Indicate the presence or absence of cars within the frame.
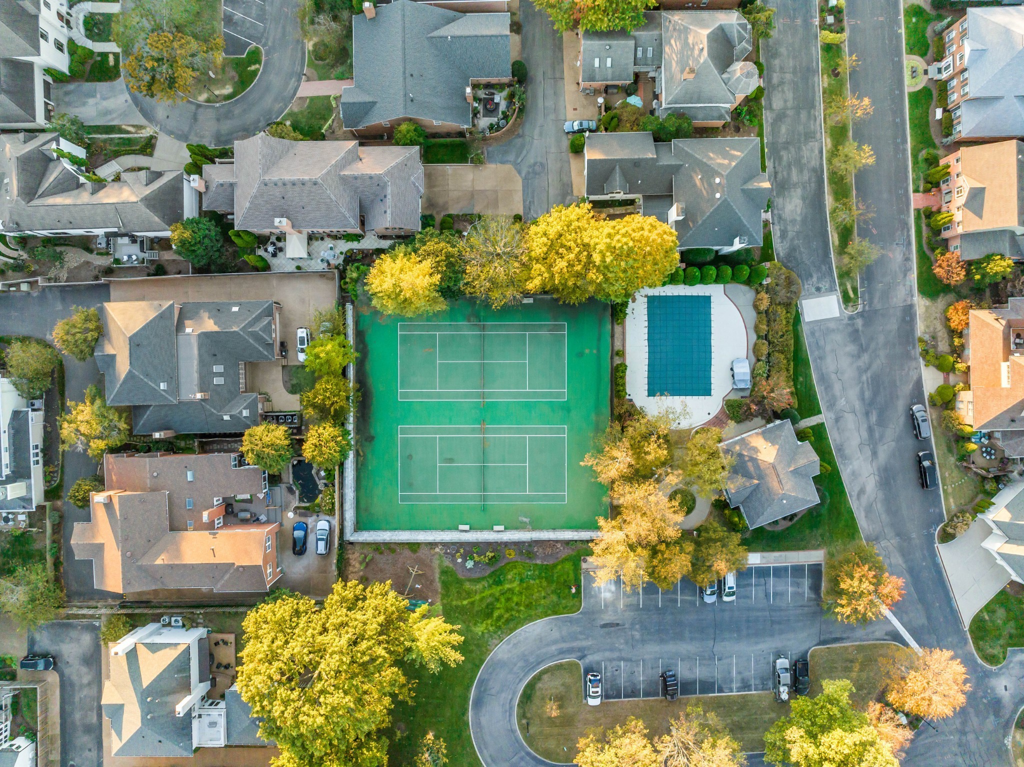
Yes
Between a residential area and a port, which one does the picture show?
residential area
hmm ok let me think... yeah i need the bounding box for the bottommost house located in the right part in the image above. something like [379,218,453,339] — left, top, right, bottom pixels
[971,482,1024,587]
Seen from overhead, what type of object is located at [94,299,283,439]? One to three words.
house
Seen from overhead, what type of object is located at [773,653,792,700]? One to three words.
vehicle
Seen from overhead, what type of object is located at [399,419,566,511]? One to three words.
tennis court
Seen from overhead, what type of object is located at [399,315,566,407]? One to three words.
tennis court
